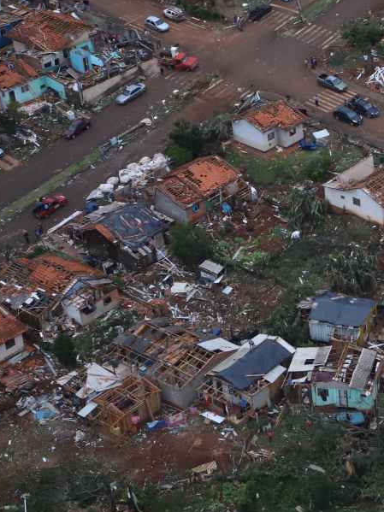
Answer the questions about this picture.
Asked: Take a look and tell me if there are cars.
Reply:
Yes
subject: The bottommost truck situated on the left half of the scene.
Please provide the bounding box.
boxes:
[33,193,70,215]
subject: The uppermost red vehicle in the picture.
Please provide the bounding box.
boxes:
[161,49,204,68]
